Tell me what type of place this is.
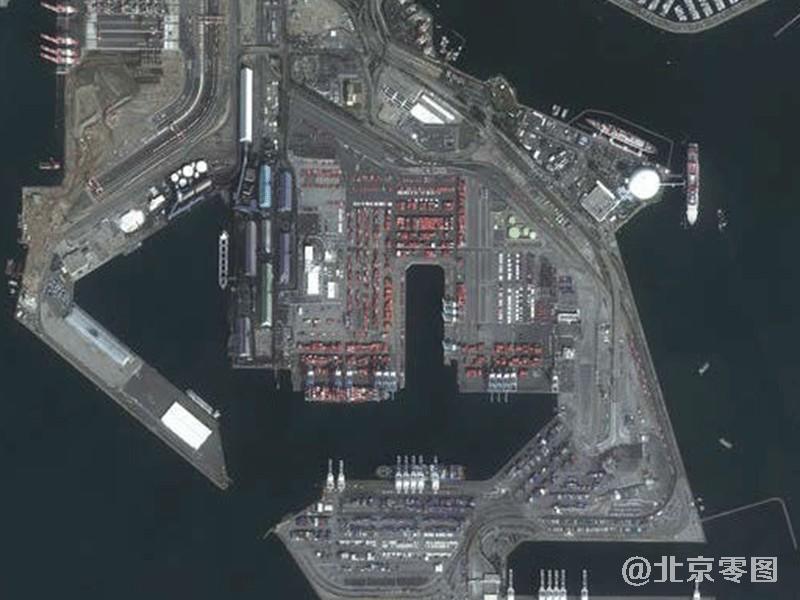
port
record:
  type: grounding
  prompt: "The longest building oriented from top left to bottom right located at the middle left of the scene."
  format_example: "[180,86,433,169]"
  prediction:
[66,308,131,364]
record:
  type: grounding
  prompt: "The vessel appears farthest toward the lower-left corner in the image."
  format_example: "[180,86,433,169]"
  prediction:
[186,390,217,416]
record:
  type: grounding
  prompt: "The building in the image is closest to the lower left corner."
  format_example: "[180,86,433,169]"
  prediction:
[163,402,212,451]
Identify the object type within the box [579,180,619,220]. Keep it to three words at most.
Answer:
building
